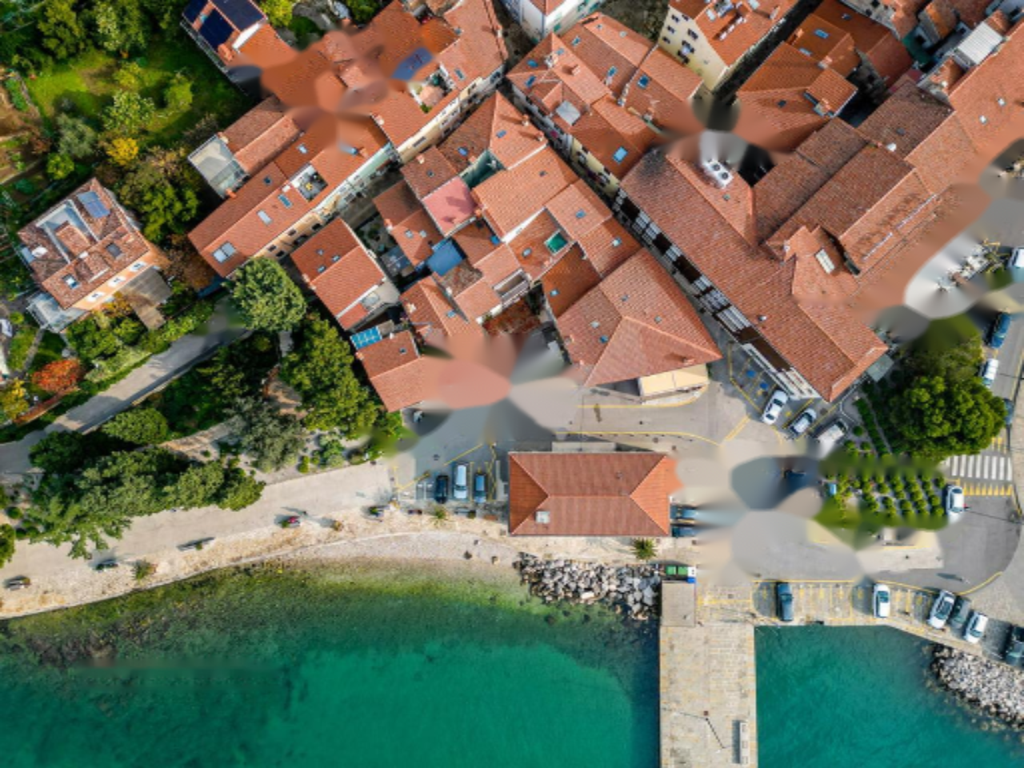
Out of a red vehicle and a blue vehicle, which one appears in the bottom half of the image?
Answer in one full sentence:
Visible in the bottom half of the image is a blue vehicle.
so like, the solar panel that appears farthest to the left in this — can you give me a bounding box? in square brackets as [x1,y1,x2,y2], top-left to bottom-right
[76,190,109,218]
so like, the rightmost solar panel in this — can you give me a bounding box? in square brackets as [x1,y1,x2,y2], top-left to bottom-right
[350,326,383,349]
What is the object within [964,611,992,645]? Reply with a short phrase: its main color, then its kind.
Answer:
white car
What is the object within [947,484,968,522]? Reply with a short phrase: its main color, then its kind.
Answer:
white car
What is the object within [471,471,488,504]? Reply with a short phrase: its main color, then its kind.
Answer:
blue car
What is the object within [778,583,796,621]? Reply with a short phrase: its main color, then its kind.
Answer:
blue car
